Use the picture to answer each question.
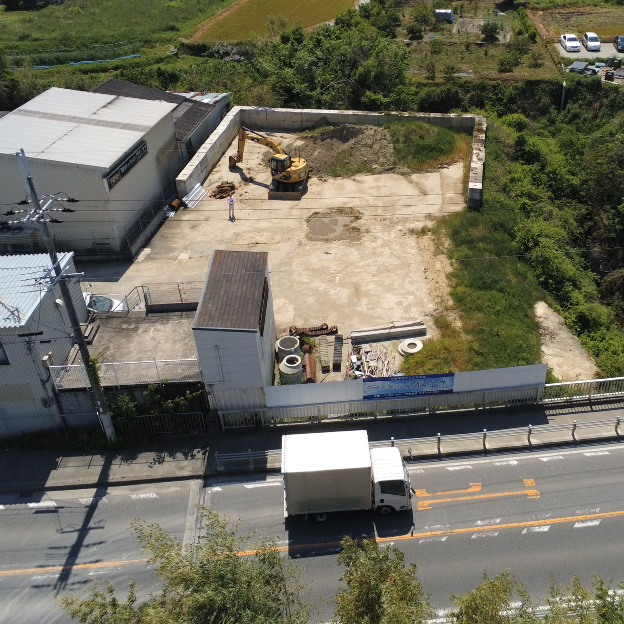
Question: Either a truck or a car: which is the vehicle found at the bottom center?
truck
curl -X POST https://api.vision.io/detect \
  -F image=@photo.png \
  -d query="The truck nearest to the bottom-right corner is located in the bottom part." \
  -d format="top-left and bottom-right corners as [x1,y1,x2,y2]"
[278,430,418,524]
